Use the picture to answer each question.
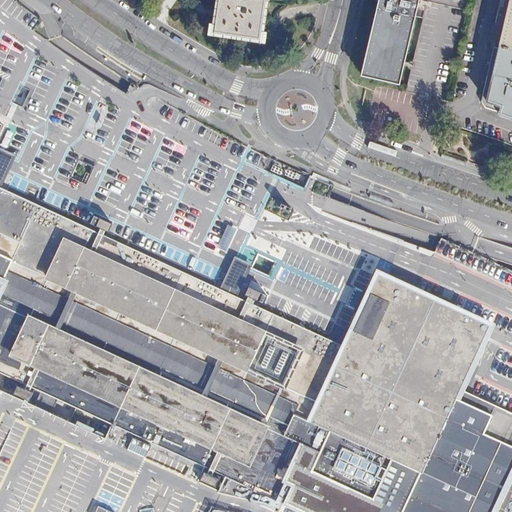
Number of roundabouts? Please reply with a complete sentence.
Just 1 roundabout appears in this view.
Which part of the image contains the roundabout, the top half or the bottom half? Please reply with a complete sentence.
The top half of the photo is where the roundabout is.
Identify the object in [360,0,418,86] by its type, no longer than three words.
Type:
building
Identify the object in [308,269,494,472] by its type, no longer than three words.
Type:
building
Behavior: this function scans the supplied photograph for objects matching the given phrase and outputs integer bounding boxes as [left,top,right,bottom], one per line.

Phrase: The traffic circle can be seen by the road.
[258,70,336,150]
